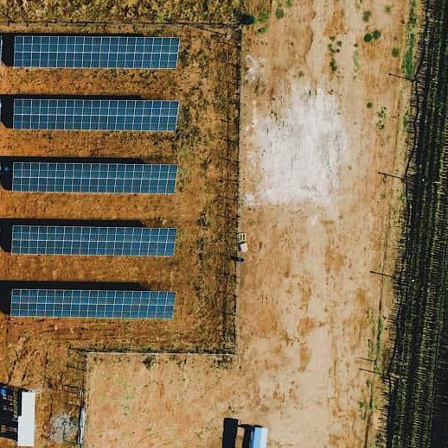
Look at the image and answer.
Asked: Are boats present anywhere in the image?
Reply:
No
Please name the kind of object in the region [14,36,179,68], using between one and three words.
solar array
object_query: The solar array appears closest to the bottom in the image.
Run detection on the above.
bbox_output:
[12,289,176,318]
